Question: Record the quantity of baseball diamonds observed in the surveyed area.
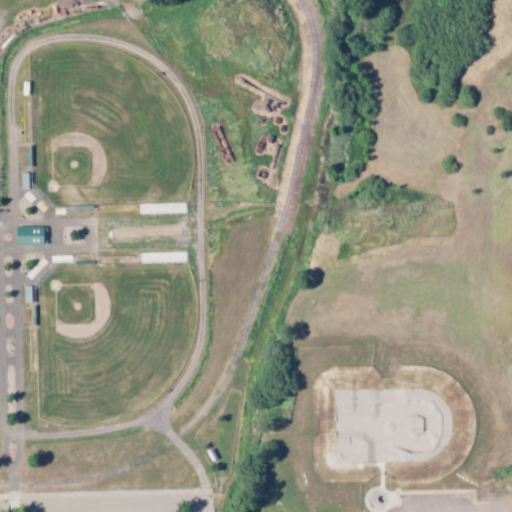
2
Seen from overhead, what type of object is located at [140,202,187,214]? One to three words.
shed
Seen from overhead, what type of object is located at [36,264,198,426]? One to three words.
baseball field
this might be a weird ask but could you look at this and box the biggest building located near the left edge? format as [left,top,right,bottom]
[17,226,46,245]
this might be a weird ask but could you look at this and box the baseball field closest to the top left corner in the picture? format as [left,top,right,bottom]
[31,44,192,207]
